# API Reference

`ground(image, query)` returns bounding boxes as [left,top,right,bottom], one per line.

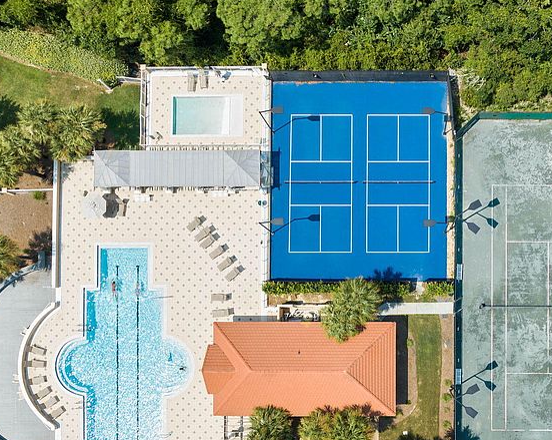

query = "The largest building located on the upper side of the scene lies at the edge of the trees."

[93,149,266,192]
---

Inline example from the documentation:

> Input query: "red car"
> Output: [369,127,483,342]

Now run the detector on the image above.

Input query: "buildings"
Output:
[93,149,266,192]
[202,321,396,417]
